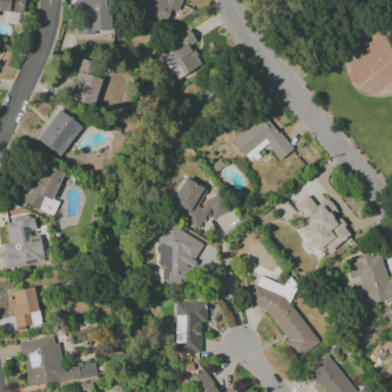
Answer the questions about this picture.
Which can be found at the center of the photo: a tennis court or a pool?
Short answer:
pool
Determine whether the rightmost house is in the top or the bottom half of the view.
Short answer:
bottom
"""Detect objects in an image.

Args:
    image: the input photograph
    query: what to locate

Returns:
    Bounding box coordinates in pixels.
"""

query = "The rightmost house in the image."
[350,254,392,304]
